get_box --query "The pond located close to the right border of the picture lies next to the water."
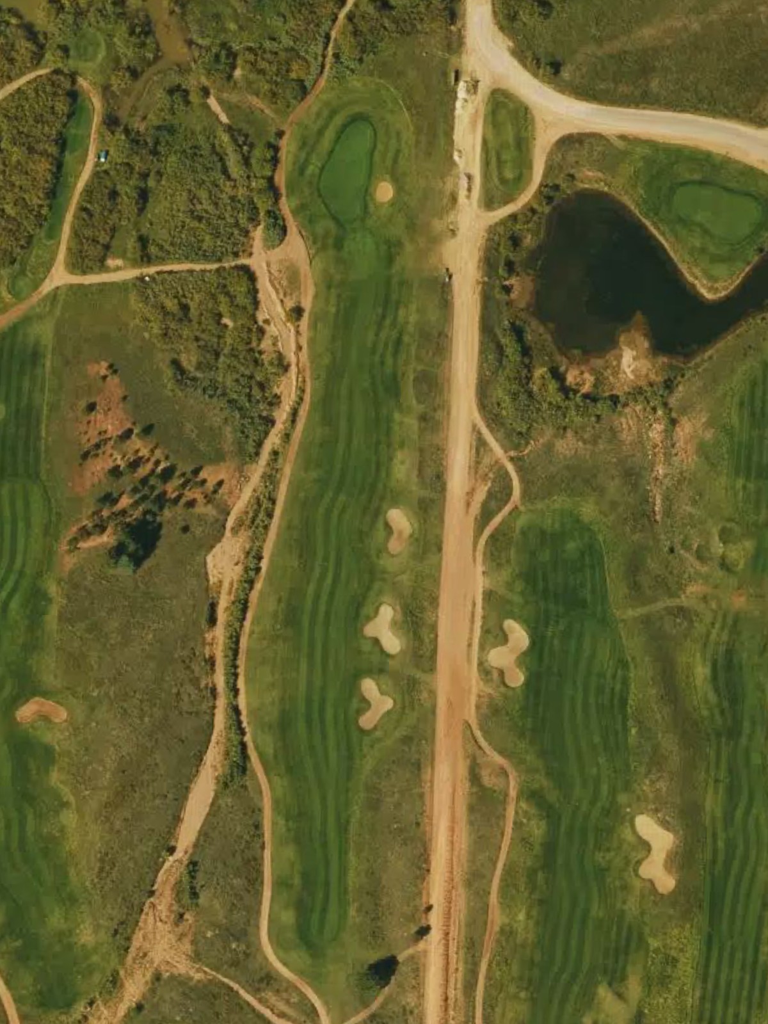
[532,186,768,365]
